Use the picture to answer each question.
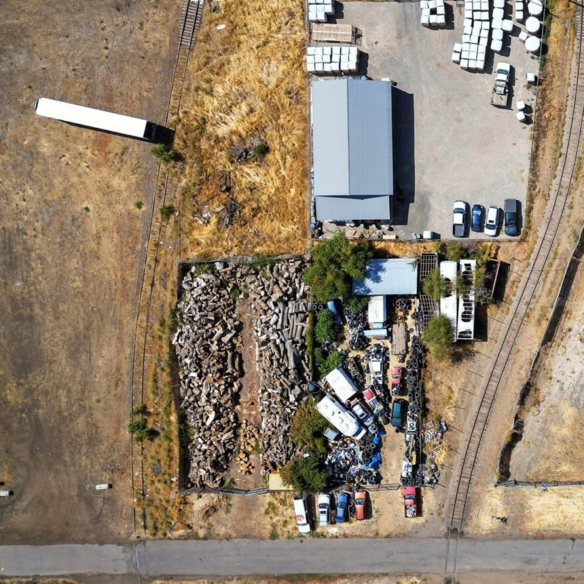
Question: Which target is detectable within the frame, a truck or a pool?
truck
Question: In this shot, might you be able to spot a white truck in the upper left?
Yes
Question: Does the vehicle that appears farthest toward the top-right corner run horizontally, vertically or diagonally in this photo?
vertically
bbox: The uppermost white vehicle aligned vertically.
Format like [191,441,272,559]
[490,60,511,109]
